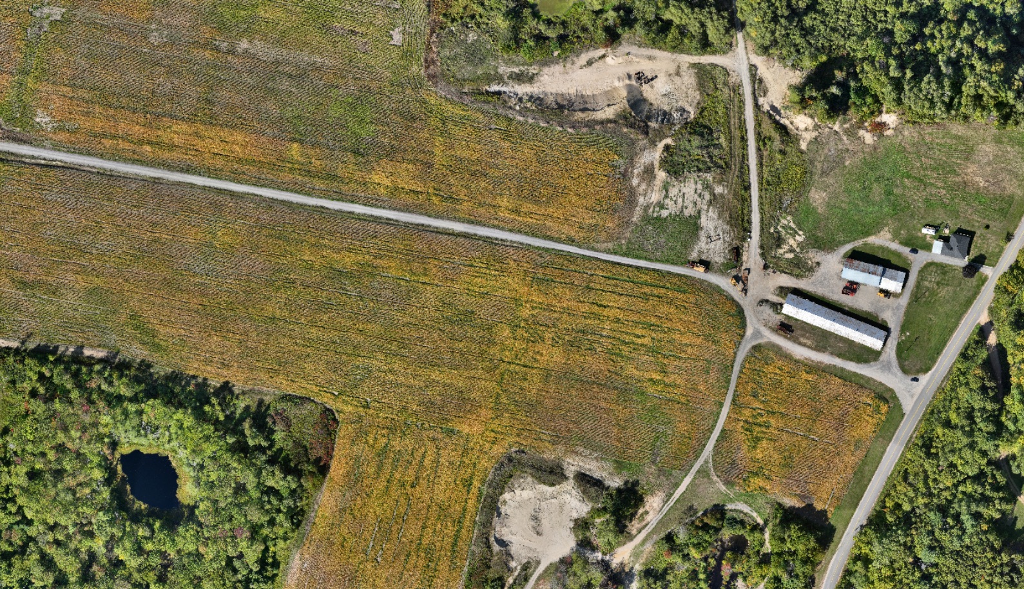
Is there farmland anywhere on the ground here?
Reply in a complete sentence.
Yes, there is farmland in the image.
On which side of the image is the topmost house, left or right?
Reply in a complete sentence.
It is on the right.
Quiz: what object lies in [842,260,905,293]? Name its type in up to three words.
shed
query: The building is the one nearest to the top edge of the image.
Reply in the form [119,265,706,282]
[930,233,972,263]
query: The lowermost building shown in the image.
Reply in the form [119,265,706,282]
[782,294,888,350]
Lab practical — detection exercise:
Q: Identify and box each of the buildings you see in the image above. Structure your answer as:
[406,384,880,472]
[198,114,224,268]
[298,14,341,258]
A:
[930,233,972,263]
[842,260,905,293]
[782,294,888,350]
